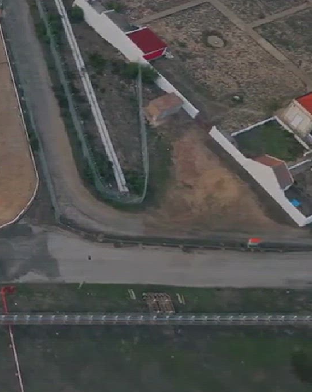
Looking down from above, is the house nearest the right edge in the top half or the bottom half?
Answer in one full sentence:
The house nearest the right edge sits in the top half of the picture.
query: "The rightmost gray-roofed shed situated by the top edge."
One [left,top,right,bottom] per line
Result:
[106,11,141,33]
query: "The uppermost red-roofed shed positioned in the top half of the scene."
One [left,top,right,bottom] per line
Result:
[127,26,168,59]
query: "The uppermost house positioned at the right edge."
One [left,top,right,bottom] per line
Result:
[282,92,312,139]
